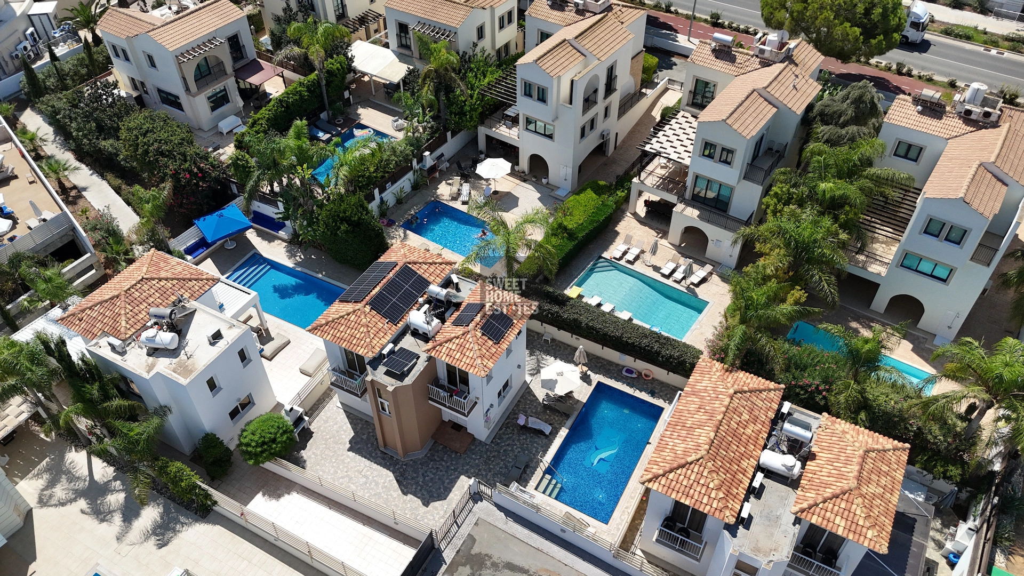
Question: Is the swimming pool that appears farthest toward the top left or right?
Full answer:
It is on the left.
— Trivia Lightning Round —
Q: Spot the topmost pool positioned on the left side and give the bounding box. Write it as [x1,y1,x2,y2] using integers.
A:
[305,119,398,190]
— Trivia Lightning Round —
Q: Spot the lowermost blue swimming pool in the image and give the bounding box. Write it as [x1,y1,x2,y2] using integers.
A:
[520,372,675,537]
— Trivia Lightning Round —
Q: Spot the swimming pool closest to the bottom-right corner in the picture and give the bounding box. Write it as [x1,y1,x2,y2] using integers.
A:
[773,314,946,407]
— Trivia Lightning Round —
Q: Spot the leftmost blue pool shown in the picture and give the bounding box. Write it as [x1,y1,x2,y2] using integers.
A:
[220,245,349,334]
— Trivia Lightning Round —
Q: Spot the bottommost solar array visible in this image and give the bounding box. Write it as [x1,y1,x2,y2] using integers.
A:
[381,347,419,379]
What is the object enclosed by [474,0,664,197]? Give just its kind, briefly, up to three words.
house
